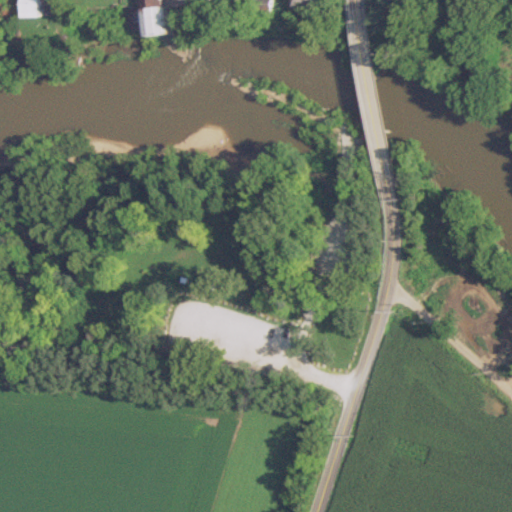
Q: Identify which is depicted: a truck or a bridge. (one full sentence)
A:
Looking from above, you can make out a bridge.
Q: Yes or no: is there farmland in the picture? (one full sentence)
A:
Yes, farmland shows up in the scene.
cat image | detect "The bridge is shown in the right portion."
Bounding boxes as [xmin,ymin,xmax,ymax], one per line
[348,12,390,172]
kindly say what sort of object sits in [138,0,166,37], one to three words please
house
